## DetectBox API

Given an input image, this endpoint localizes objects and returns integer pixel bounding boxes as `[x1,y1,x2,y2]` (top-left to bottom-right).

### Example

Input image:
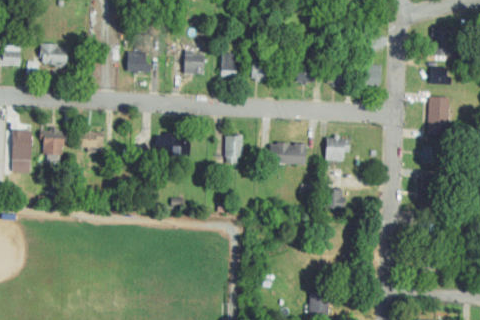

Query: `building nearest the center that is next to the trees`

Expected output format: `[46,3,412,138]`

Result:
[224,135,243,164]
